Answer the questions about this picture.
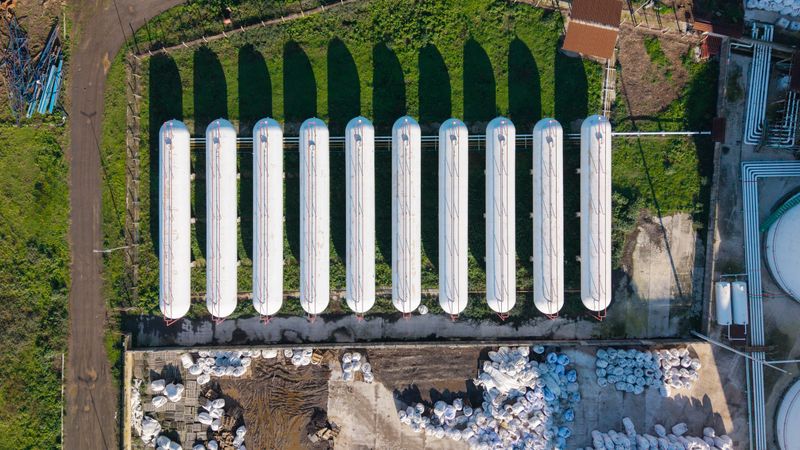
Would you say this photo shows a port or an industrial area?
industrial area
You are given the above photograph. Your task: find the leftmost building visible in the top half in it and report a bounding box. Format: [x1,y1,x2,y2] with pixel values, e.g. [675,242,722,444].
[561,0,623,60]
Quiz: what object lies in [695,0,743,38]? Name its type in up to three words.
barn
